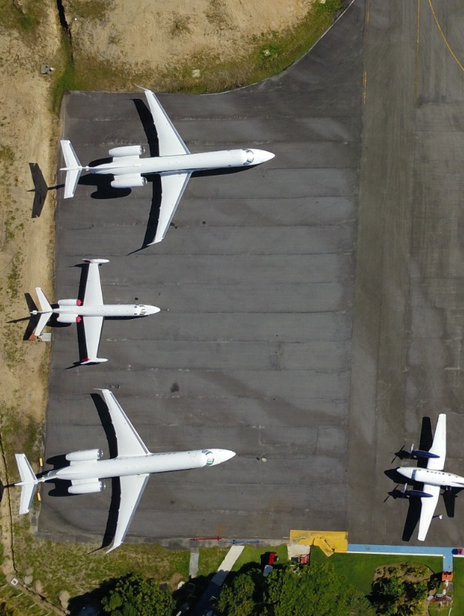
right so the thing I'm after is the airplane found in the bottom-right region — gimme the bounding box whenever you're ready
[396,412,464,540]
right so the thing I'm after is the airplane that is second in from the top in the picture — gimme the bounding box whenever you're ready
[32,261,160,361]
